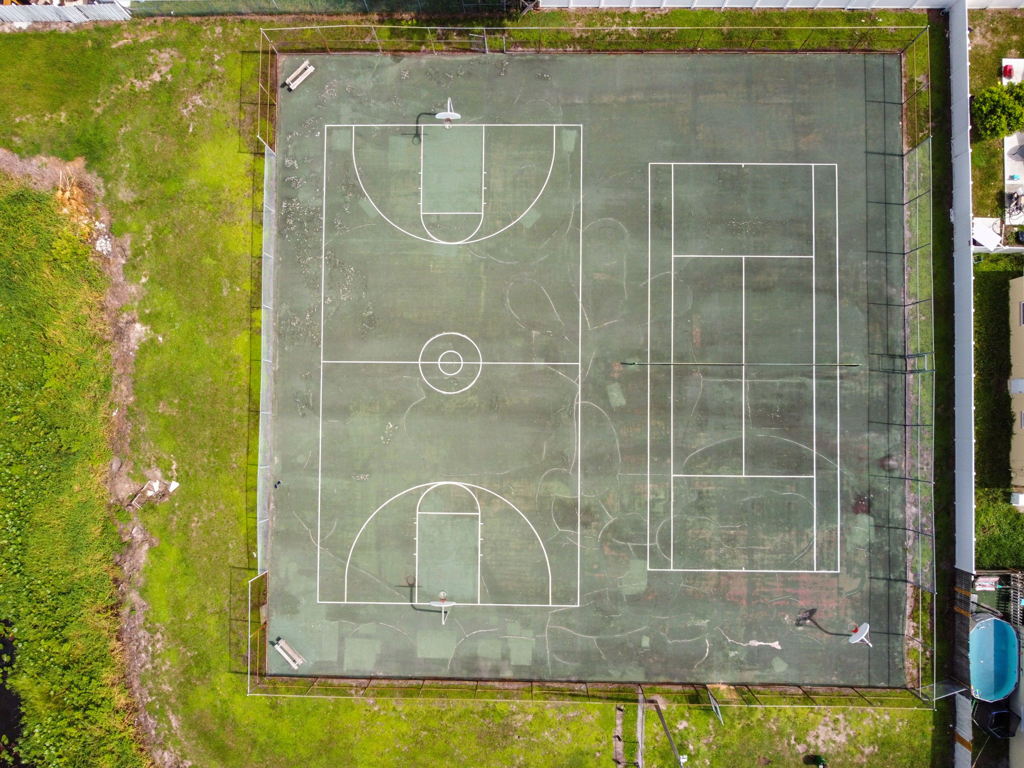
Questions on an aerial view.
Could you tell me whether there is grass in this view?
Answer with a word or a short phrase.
Yes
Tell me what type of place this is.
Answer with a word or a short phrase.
sports ground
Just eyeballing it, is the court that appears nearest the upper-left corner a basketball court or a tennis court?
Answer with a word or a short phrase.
basketball court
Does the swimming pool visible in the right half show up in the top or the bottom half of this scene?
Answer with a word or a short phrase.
bottom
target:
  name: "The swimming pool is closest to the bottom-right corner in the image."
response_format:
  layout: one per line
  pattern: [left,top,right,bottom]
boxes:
[957,612,1019,702]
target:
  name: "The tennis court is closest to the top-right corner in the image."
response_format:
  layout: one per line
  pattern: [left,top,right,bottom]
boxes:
[647,163,840,572]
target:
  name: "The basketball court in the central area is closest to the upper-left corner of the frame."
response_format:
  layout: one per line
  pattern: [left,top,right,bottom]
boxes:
[317,124,582,607]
